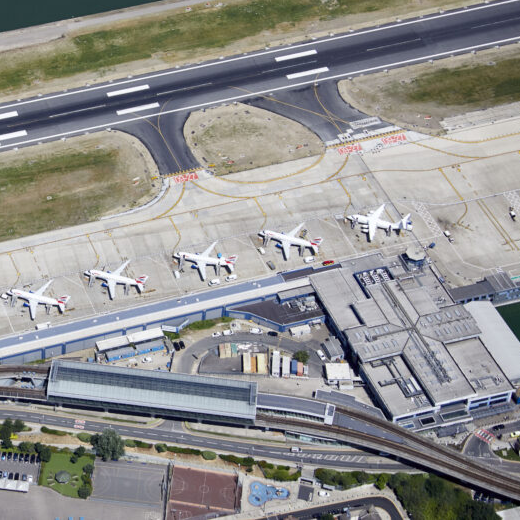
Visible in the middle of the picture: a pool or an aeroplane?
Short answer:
aeroplane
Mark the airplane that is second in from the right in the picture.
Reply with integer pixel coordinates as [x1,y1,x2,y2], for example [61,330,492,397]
[258,219,324,259]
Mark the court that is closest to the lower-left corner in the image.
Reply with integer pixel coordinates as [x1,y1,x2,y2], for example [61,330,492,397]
[92,460,170,520]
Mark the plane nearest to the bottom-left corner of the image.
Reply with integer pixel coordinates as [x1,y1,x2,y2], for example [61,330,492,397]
[6,277,73,318]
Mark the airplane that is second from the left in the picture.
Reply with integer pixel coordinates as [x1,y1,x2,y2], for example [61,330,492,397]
[82,257,149,298]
